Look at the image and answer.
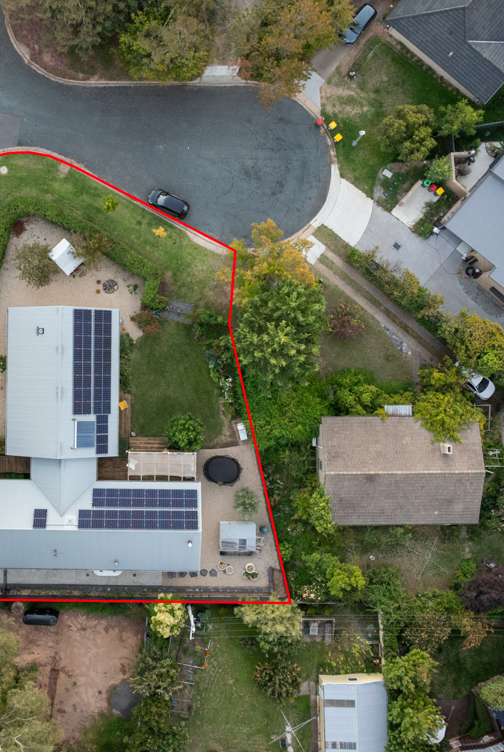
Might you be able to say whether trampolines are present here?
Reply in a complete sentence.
Yes, the picture does show a trampoline.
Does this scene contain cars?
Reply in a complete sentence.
Yes, a car can be made out from above.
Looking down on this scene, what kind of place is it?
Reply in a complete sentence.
It's a residential area.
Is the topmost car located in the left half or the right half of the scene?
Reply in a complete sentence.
The topmost car sits on the right side.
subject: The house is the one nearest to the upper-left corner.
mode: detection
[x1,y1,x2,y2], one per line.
[48,238,83,276]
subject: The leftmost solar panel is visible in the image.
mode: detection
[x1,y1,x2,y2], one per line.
[33,509,47,529]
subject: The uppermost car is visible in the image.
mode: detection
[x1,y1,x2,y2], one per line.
[337,0,381,48]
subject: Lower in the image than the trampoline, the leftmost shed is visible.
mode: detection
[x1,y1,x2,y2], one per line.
[218,519,257,551]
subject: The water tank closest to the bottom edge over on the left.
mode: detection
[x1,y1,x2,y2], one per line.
[24,608,60,624]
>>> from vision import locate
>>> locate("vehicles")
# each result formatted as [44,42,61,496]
[145,187,193,221]
[337,0,381,48]
[453,361,497,403]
